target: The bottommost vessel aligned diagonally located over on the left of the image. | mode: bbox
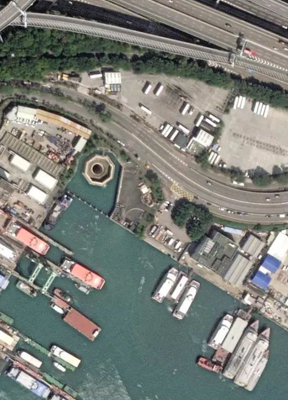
[6,366,52,398]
